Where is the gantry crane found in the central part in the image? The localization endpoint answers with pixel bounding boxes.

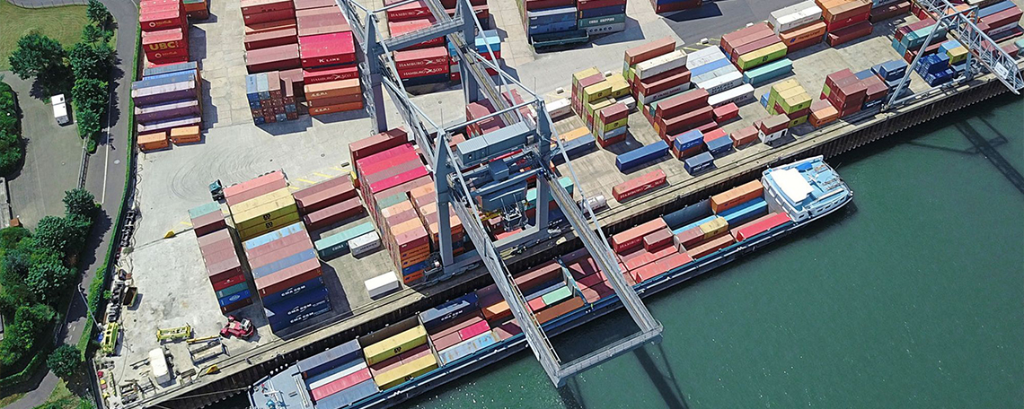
[352,0,666,387]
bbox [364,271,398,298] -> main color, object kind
white shipping container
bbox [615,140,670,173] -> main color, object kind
blue shipping container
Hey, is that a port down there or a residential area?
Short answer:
port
